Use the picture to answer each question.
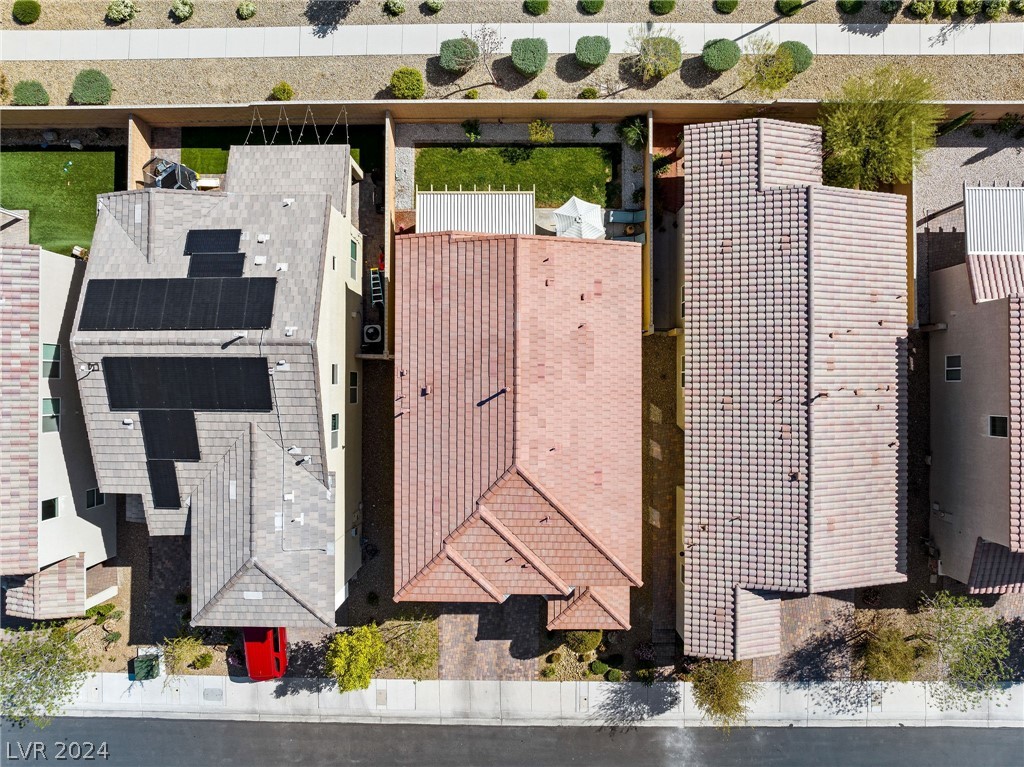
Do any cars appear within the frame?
Yes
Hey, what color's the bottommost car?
red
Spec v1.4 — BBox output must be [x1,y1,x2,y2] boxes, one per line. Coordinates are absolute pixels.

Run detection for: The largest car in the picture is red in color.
[245,627,292,683]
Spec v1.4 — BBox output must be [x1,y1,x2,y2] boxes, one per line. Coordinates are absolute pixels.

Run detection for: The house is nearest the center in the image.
[392,183,645,631]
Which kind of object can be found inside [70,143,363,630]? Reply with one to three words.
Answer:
house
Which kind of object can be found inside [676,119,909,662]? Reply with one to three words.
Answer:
house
